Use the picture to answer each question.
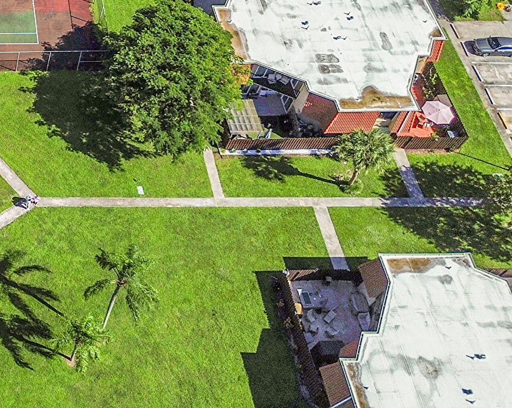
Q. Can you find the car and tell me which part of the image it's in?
top right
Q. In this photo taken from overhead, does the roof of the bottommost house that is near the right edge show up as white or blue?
white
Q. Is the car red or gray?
gray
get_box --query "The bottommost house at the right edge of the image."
[319,254,512,408]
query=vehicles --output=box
[469,35,512,56]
